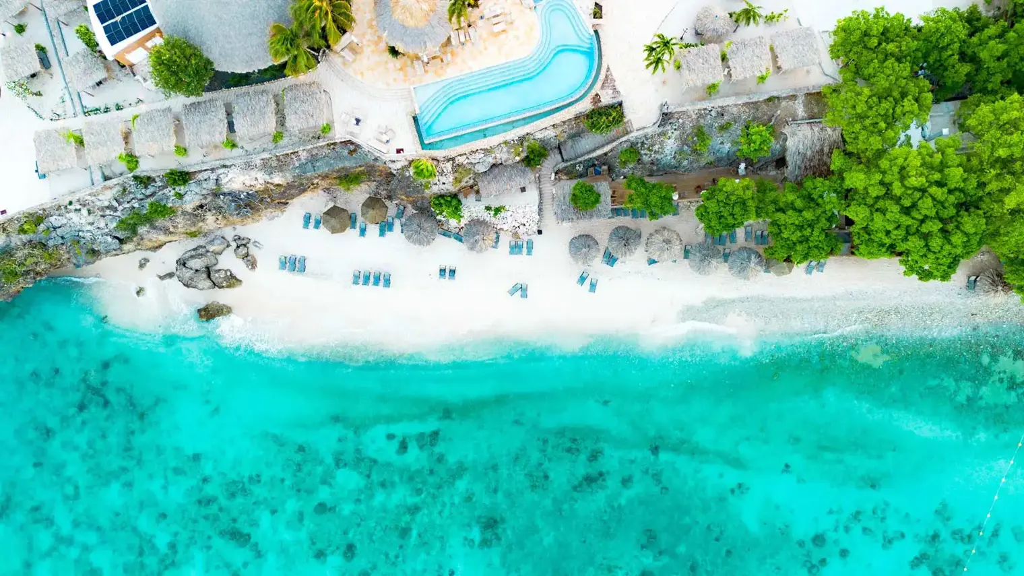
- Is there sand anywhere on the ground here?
Yes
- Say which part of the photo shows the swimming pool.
top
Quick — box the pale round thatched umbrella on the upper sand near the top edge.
[692,1,736,44]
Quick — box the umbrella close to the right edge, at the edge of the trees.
[974,264,1006,299]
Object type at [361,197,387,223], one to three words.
umbrella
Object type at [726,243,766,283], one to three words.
umbrella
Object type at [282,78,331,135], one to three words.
shed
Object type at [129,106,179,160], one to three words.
shed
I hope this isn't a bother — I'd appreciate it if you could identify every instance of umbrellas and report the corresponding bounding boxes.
[322,206,350,234]
[460,217,498,256]
[604,222,644,260]
[974,264,1006,299]
[726,243,766,283]
[685,239,724,278]
[361,197,387,223]
[766,252,796,278]
[643,223,683,265]
[566,232,600,266]
[692,1,736,44]
[401,210,440,249]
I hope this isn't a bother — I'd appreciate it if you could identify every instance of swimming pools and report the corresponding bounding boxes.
[406,0,609,162]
